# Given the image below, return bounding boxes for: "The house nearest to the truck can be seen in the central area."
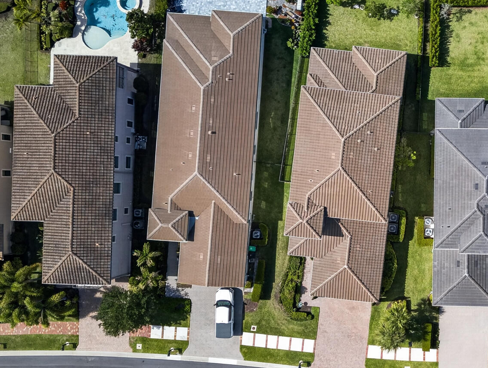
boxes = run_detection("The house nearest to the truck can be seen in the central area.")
[147,9,264,287]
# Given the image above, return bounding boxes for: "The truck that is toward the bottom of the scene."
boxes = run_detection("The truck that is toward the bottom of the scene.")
[213,287,236,339]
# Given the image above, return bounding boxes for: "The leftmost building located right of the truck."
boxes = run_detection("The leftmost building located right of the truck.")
[283,45,408,303]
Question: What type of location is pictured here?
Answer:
residential area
